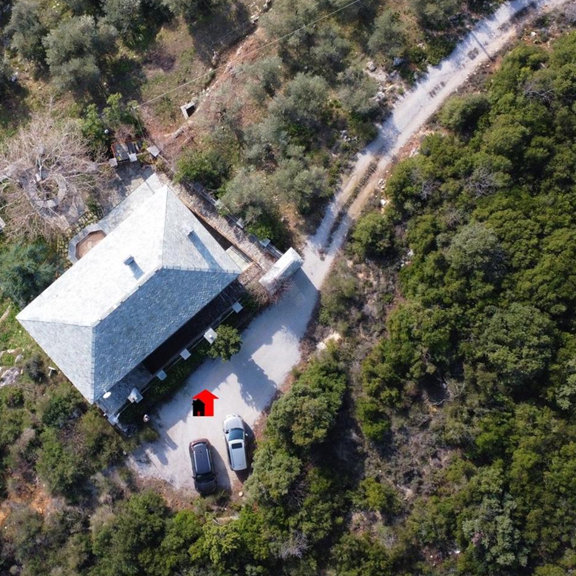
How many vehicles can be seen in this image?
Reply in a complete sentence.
In total, there are 2 vehicles in the scene.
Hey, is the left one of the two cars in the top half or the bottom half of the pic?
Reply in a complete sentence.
The bottom half of the photo is where the left one of the two cars is.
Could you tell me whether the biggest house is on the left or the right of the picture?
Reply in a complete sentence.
The biggest house is on the left side of the image.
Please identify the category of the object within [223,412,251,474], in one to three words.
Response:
car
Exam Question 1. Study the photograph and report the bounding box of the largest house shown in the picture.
[15,184,242,404]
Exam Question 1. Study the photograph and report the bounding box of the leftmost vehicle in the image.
[190,439,218,494]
